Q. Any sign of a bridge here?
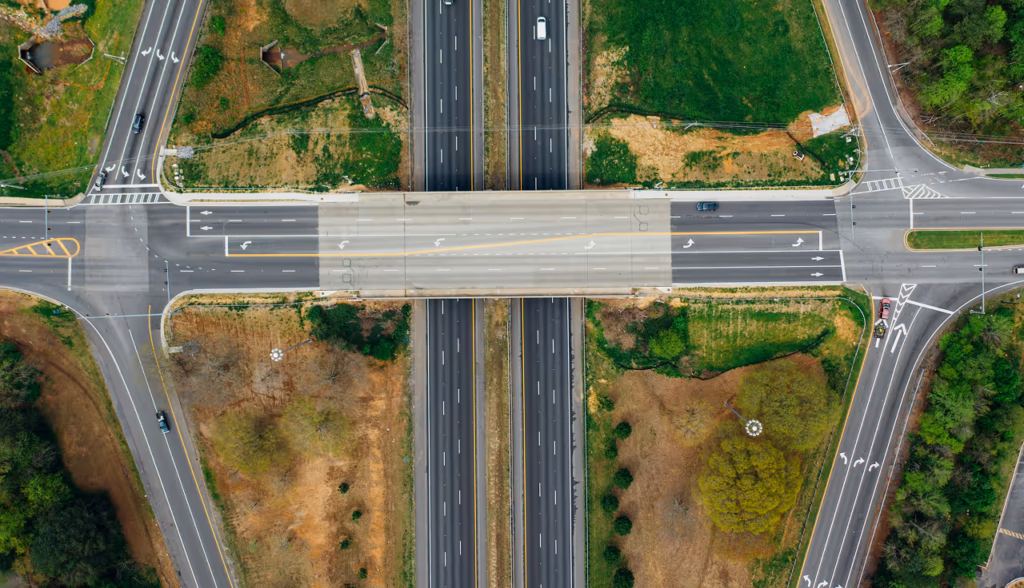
Yes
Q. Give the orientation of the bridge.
from side to side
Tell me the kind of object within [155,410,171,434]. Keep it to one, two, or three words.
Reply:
vehicle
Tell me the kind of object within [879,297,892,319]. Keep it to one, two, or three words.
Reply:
vehicle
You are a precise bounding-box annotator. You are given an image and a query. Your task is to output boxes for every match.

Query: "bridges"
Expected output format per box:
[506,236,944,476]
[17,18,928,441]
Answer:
[318,188,670,299]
